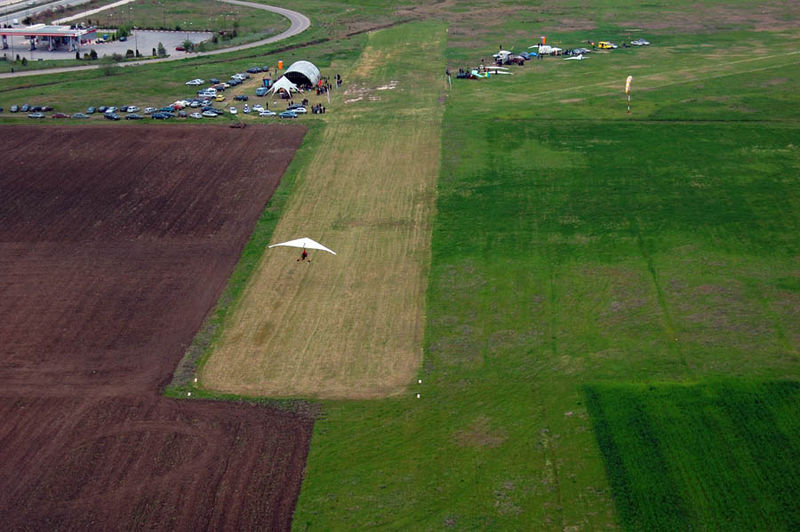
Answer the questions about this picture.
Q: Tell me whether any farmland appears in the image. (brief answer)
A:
Yes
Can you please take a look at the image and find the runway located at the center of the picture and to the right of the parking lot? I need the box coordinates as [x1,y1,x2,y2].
[191,20,448,400]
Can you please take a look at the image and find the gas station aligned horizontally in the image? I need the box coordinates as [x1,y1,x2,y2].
[0,23,101,52]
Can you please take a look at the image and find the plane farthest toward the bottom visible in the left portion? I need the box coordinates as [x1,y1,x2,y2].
[269,237,338,261]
